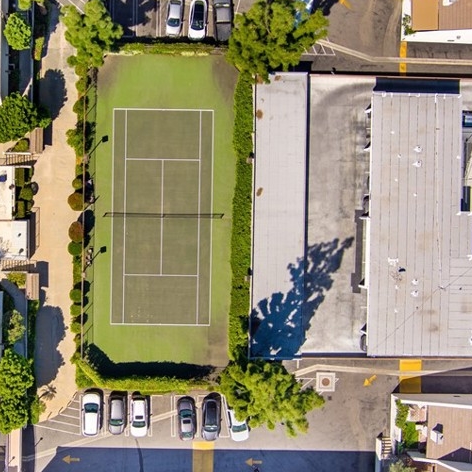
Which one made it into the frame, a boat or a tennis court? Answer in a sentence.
There is a tennis court in the scene.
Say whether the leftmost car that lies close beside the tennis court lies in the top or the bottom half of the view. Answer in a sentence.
The leftmost car that lies close beside the tennis court sits in the bottom half of the picture.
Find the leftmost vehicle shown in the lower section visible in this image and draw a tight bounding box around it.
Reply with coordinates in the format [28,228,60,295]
[81,391,102,435]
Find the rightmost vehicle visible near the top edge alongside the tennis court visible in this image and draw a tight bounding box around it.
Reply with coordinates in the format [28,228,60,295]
[211,0,233,42]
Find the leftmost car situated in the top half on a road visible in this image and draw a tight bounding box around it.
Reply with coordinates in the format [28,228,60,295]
[165,0,185,38]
